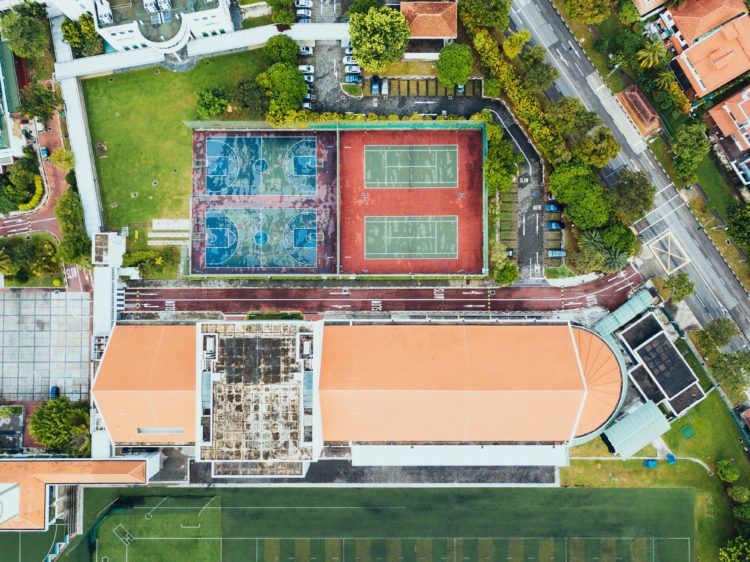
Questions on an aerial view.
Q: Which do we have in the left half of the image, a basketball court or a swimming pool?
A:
basketball court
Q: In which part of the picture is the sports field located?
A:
bottom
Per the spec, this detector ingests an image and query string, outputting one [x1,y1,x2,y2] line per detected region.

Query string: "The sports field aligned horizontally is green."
[64,488,696,562]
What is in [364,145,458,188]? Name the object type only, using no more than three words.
tennis court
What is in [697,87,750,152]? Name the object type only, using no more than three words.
house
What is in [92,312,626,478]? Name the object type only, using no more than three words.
building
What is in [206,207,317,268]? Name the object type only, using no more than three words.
basketball court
